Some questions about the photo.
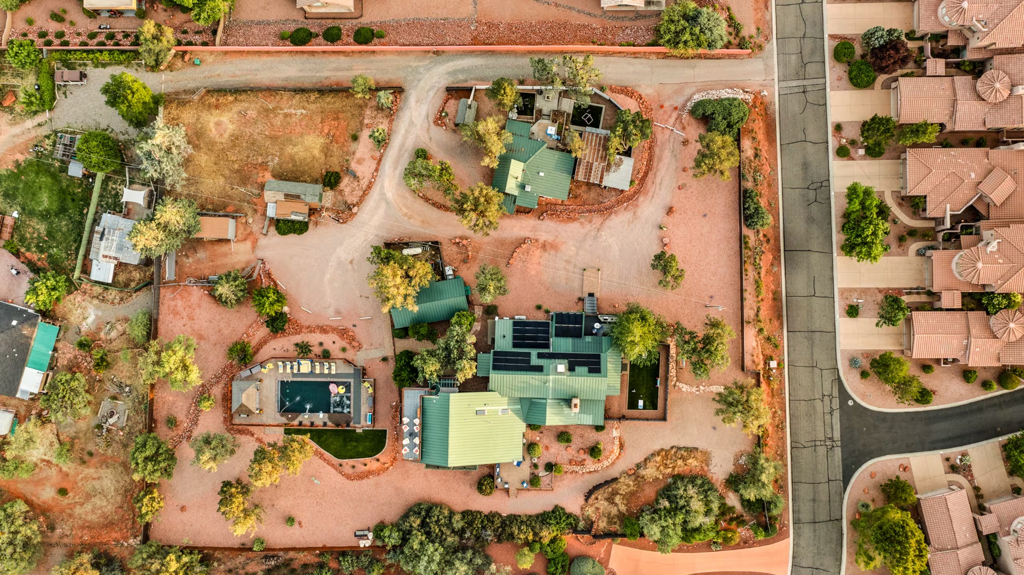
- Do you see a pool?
Yes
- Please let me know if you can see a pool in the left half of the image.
Yes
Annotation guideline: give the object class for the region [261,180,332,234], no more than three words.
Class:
barn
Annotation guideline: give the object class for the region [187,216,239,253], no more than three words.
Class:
shed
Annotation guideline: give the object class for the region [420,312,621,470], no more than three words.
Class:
house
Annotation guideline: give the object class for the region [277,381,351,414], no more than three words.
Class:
swimming pool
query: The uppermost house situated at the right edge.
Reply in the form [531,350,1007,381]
[906,0,1024,64]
